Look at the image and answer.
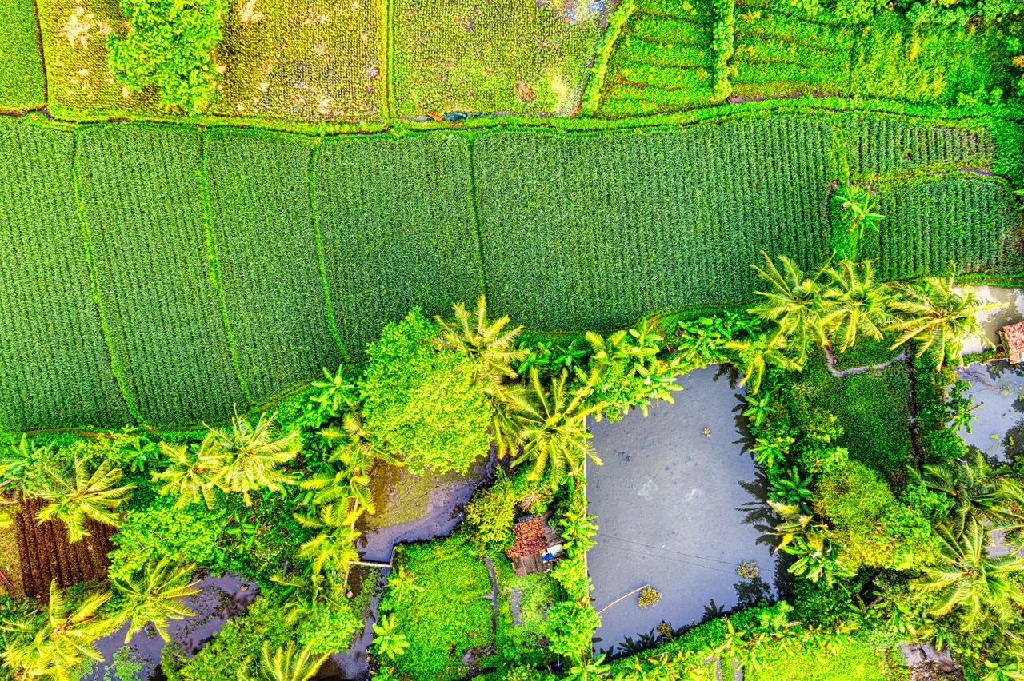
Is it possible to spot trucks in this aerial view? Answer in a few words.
No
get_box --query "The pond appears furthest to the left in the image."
[76,570,264,681]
